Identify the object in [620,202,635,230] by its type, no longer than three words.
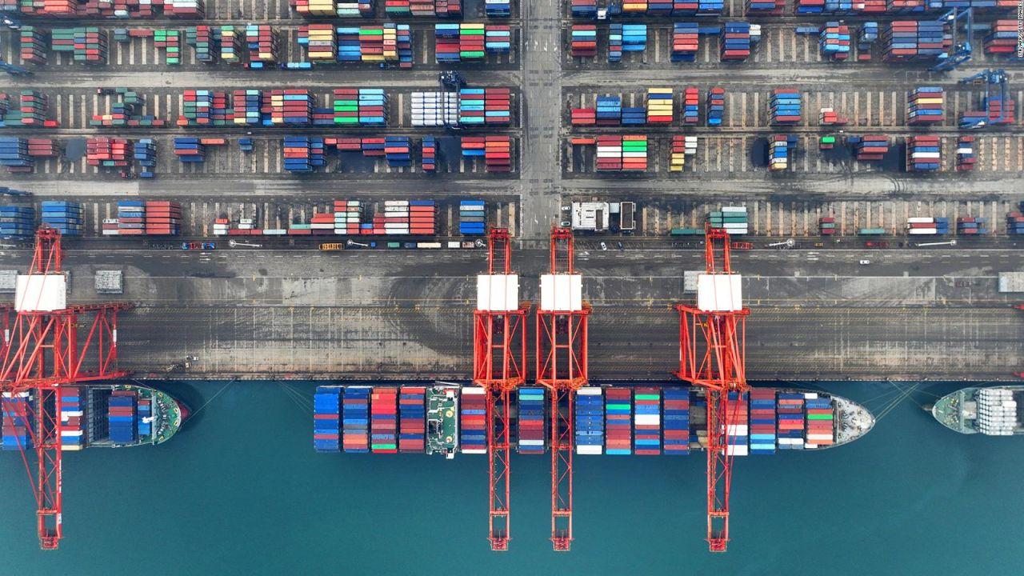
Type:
shed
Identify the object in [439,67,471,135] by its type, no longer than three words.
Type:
crane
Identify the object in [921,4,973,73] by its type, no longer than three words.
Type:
crane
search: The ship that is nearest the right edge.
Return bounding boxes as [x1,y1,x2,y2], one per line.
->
[920,384,1024,435]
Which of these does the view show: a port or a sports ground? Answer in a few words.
port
